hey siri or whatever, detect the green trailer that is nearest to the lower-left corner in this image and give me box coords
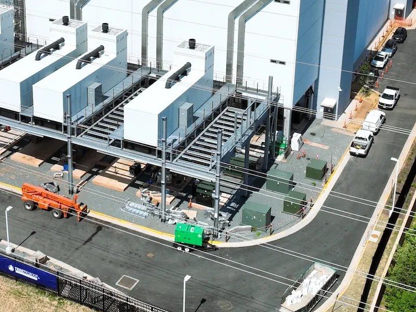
[172,218,230,251]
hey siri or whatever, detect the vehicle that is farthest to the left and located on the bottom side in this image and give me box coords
[22,185,93,225]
